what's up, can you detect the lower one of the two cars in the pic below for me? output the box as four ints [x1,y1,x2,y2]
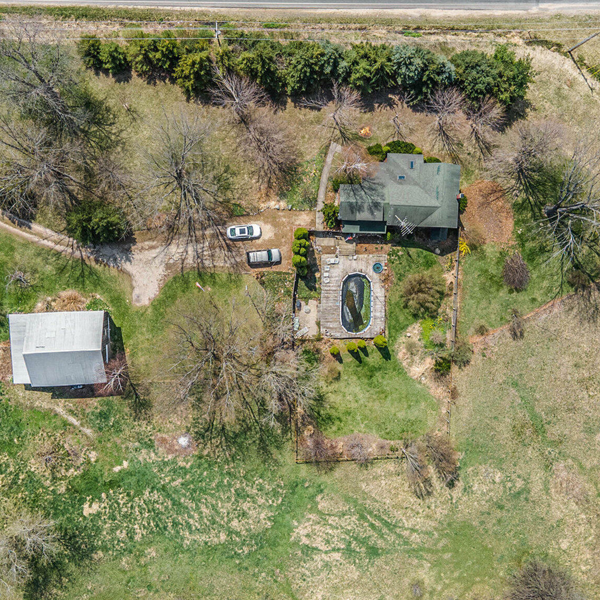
[248,249,282,264]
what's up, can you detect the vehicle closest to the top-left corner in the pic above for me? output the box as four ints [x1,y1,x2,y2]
[227,224,261,240]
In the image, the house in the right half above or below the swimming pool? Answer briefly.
above it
